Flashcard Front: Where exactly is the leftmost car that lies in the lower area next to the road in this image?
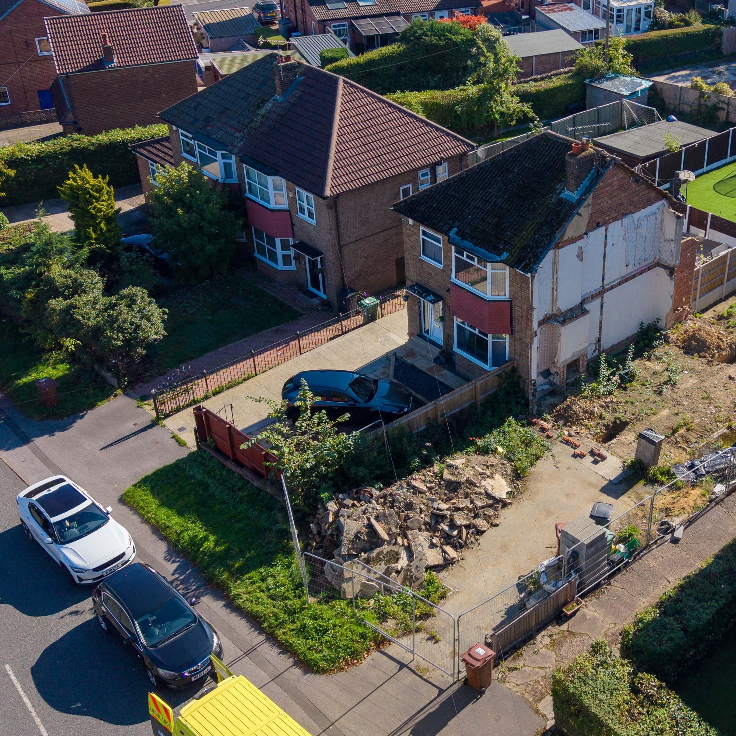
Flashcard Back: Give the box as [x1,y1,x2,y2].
[15,480,133,587]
